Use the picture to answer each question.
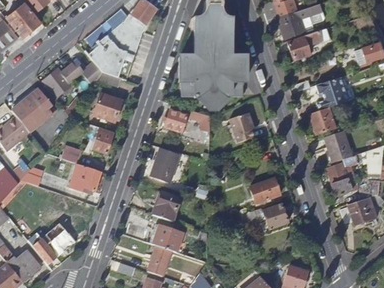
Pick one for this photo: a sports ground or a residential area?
residential area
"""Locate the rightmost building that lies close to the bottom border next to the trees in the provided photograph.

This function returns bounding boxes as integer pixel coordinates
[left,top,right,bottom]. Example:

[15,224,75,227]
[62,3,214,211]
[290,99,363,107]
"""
[282,264,310,288]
